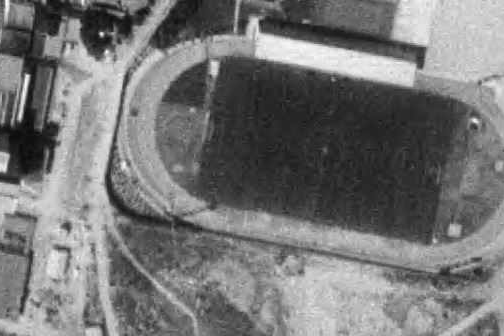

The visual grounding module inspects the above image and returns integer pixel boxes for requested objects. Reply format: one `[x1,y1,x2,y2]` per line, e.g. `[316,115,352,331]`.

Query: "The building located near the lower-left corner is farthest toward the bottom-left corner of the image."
[0,247,30,314]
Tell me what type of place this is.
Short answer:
sports ground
